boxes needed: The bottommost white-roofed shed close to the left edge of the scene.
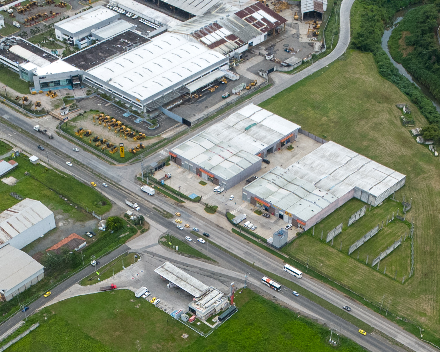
[0,245,48,305]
